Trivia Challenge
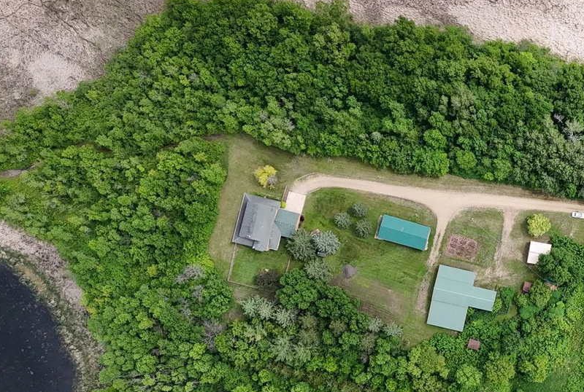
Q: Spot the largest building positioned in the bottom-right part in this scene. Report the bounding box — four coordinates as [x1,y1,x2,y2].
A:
[428,264,498,332]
